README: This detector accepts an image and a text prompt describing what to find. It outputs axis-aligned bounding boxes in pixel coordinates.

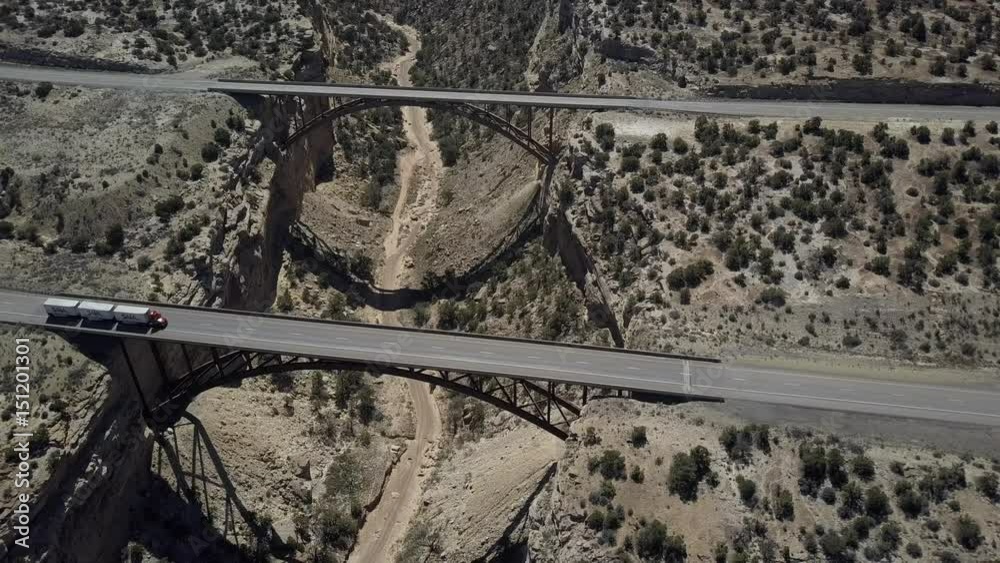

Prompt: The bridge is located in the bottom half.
[0,286,724,435]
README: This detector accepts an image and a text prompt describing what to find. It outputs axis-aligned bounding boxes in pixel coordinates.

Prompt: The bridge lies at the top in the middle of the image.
[204,80,713,172]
